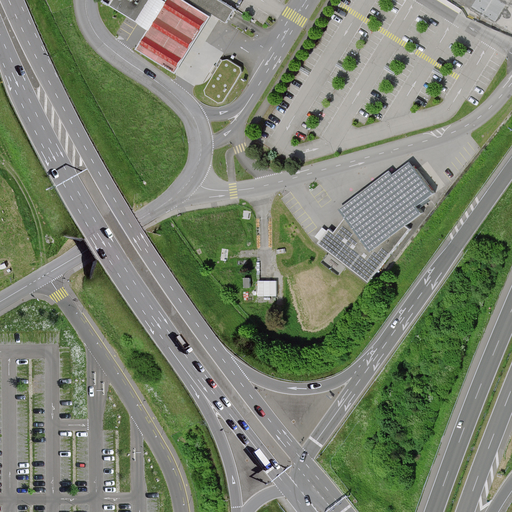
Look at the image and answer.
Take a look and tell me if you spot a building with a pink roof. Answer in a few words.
Yes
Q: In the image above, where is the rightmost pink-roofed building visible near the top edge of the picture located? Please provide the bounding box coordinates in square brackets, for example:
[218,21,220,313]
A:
[136,0,209,72]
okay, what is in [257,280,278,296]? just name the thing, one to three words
shed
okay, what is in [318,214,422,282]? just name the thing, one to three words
building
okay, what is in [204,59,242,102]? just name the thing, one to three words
building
